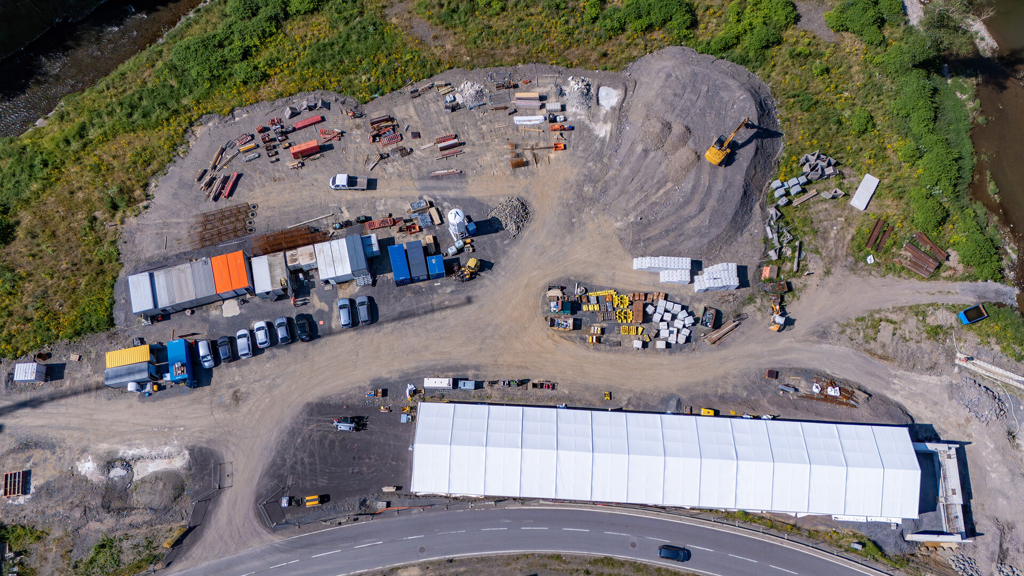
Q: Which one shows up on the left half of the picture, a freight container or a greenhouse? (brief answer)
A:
freight container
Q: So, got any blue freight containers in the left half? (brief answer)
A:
Yes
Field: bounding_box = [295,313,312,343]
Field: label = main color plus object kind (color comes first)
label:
black car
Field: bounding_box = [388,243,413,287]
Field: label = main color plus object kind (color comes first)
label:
blue shipping container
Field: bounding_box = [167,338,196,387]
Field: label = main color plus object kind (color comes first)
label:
blue shipping container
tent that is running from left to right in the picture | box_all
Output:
[411,402,922,519]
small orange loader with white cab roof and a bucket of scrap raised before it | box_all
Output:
[767,299,784,333]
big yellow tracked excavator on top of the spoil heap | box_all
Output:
[700,116,750,172]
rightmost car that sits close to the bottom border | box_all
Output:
[657,545,689,563]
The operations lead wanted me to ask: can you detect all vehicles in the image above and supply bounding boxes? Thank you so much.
[452,255,485,286]
[337,298,353,329]
[275,317,292,345]
[356,296,372,326]
[465,245,473,254]
[236,330,254,359]
[767,299,784,333]
[254,321,272,349]
[295,313,312,343]
[306,494,321,505]
[333,416,367,432]
[657,545,689,563]
[128,381,156,394]
[700,116,750,172]
[217,336,235,363]
[196,340,216,369]
[330,174,369,190]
